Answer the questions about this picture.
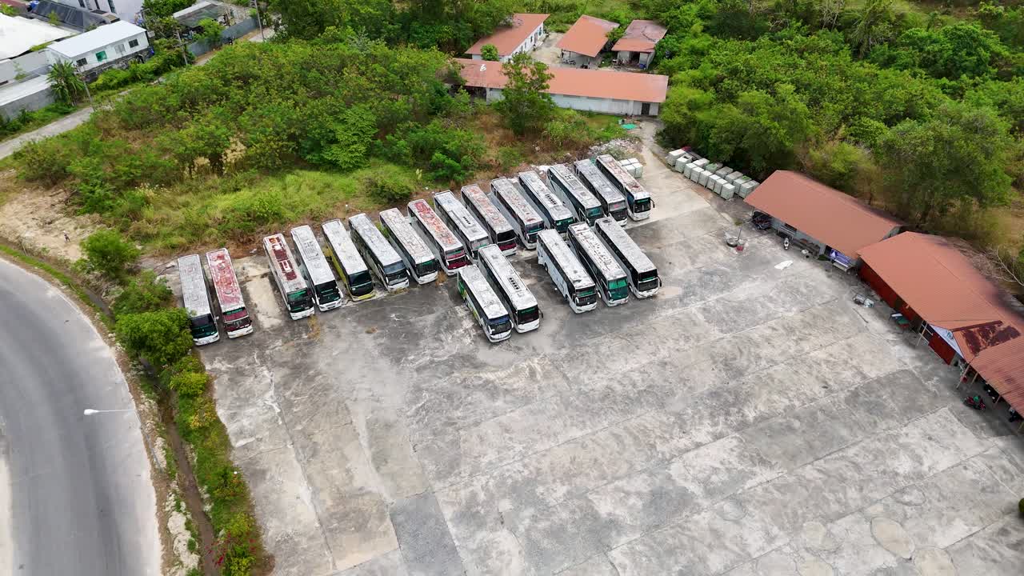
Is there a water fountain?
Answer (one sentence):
No, I find no water fountain anywhere in the image.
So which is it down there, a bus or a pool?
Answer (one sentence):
Looking from above, you can make out a bus.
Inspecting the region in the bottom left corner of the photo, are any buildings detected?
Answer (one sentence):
No, there's no building to be seen in the bottom left corner of the photo.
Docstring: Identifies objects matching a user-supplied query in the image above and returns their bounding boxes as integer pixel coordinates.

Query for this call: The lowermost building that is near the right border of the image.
[916,321,1024,429]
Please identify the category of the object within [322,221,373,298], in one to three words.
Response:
bus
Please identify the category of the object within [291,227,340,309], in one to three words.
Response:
bus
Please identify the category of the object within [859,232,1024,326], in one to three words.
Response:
building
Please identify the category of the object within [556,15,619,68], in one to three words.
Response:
shed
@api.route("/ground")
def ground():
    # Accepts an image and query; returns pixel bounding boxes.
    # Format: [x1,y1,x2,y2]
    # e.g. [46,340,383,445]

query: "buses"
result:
[568,224,629,305]
[291,227,340,309]
[322,221,373,298]
[537,230,597,312]
[408,200,467,273]
[207,249,250,337]
[349,215,407,290]
[263,234,313,318]
[479,245,543,332]
[573,160,628,223]
[548,166,605,229]
[461,185,518,256]
[594,219,662,296]
[458,266,512,342]
[379,209,438,285]
[519,173,574,242]
[491,179,546,247]
[179,255,217,343]
[435,192,491,263]
[596,155,654,220]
